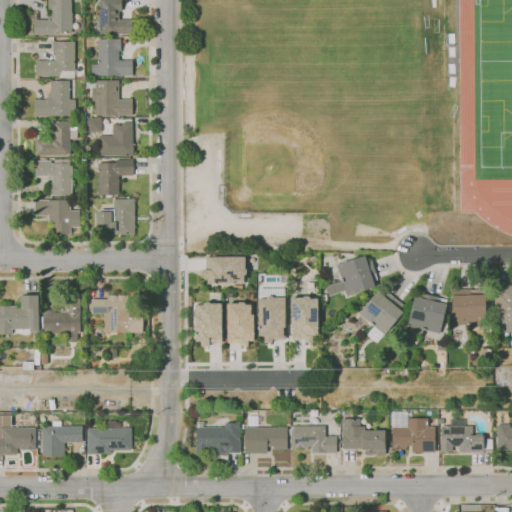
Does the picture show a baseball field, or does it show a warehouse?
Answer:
baseball field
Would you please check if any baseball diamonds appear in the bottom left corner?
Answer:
No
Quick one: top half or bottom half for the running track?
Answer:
top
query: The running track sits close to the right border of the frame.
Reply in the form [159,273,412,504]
[461,0,512,234]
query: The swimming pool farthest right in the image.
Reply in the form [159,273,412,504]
[468,415,488,434]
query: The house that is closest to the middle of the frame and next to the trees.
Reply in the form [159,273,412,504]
[202,257,246,286]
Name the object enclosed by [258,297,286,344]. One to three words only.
house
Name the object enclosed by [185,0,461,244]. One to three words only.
sports field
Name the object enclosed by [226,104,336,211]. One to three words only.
baseball field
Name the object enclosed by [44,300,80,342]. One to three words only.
house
